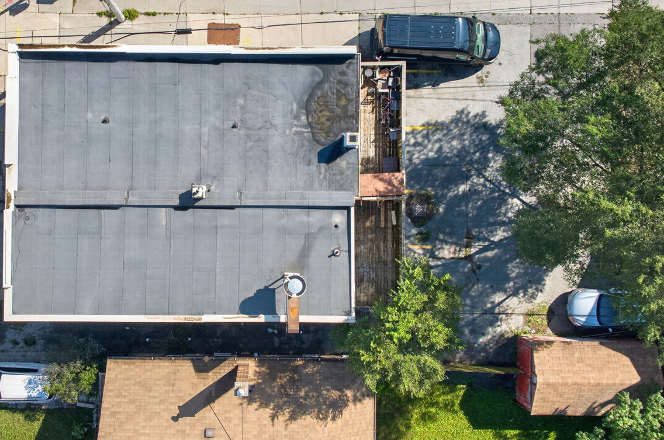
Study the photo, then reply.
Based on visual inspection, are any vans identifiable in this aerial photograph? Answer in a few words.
Yes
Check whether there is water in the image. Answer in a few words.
No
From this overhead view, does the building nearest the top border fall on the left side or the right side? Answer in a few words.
left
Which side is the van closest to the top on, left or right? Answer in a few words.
right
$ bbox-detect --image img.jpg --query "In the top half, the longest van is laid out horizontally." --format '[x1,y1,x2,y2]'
[368,18,498,68]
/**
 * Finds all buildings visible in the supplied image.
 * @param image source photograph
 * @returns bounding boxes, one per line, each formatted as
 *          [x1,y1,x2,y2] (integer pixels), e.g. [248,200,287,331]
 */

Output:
[89,350,378,440]
[4,44,360,322]
[518,333,664,415]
